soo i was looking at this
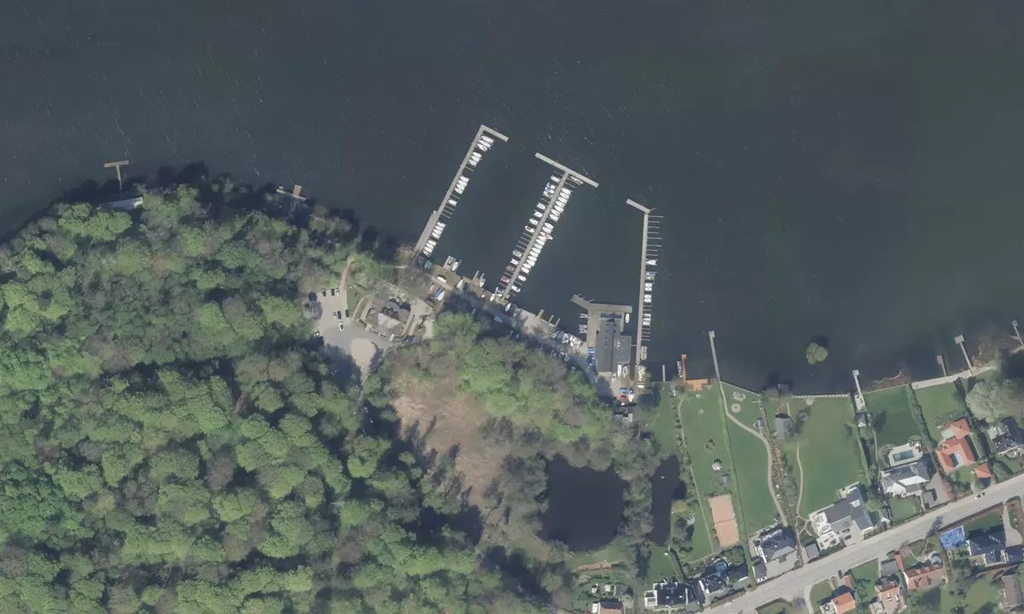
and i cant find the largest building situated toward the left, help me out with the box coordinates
[365,302,410,340]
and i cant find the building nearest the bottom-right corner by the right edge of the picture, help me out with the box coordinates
[1001,574,1023,606]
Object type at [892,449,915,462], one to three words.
swimming pool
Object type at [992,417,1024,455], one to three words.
house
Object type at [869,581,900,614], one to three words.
house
